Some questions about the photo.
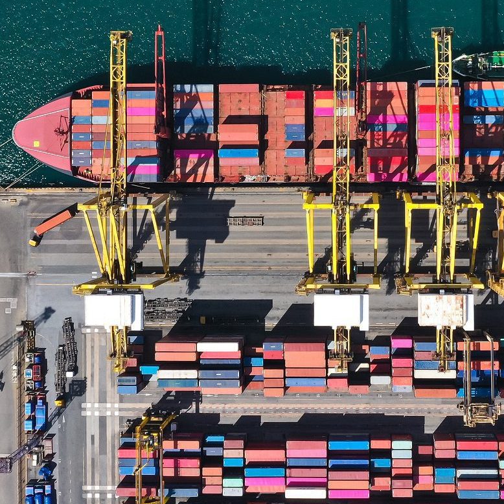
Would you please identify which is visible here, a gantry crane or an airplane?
gantry crane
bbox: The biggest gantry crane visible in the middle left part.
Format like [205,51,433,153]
[72,20,182,386]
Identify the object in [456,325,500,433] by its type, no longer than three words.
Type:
container crane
